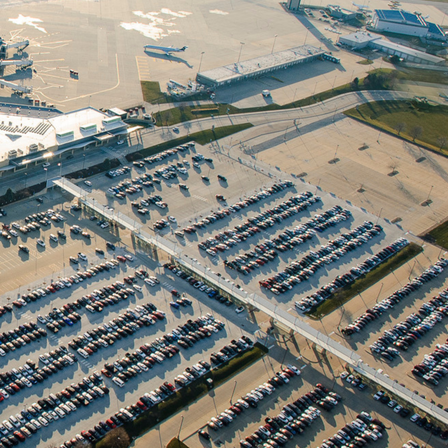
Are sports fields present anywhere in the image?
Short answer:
No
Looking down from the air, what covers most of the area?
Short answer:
paved ground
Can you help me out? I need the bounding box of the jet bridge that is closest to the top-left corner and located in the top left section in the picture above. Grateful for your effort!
[2,39,32,52]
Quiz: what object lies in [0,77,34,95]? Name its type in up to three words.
jet bridge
